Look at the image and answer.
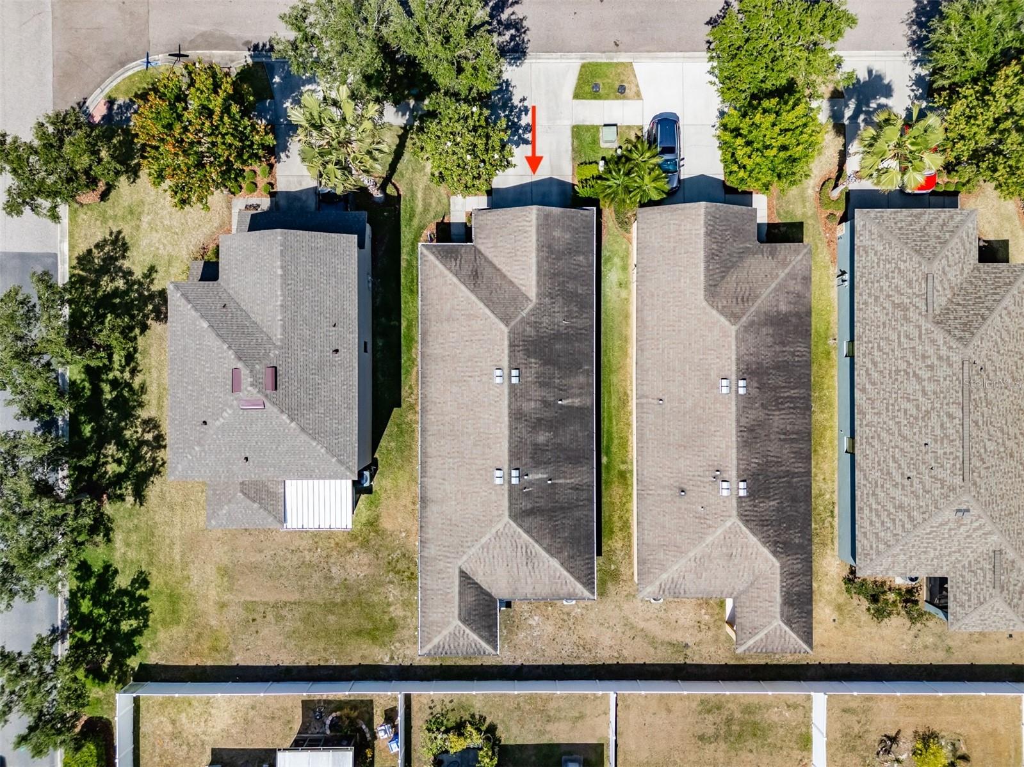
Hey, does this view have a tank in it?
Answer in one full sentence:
No, there appears to be no tank in this shot.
